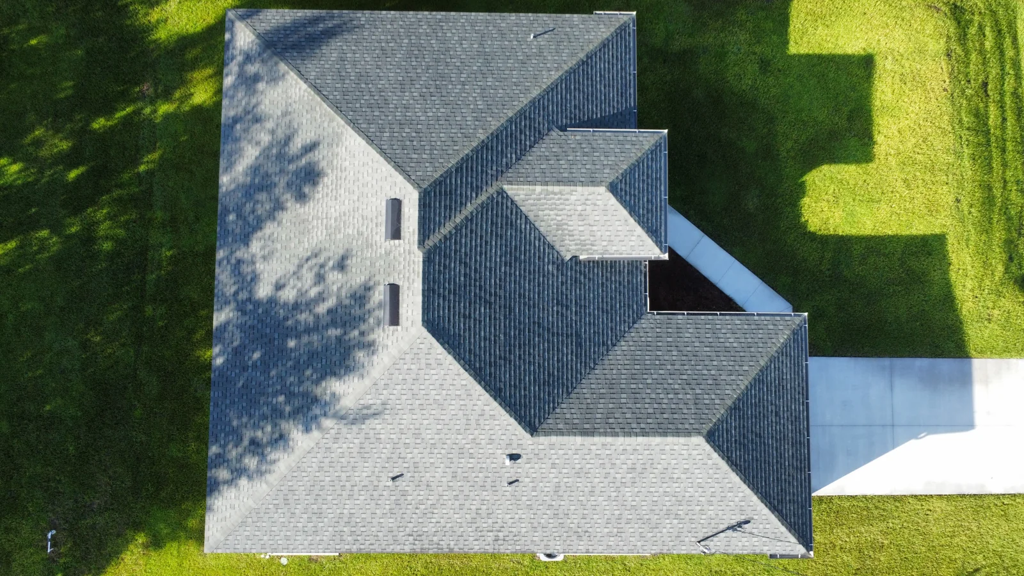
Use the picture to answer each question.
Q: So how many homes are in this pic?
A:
one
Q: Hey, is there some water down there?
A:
No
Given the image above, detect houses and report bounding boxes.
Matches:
[202,7,816,559]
